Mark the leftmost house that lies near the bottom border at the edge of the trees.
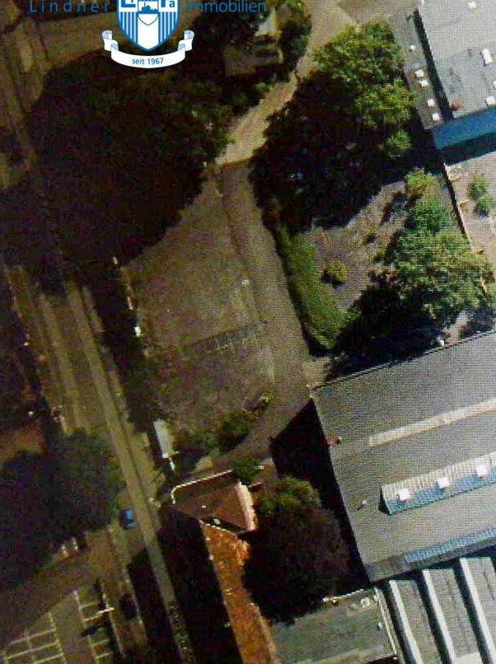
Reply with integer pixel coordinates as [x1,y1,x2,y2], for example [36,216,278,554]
[189,523,278,664]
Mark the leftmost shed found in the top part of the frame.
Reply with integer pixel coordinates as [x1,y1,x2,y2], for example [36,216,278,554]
[247,7,284,48]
